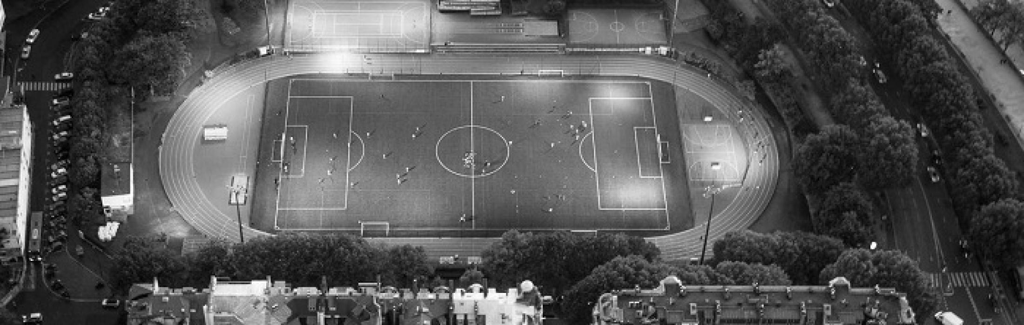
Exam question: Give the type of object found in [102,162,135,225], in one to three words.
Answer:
building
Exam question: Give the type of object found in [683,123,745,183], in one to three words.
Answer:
basketball court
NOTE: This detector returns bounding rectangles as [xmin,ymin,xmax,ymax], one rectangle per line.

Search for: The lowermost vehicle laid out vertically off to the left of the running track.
[27,206,42,262]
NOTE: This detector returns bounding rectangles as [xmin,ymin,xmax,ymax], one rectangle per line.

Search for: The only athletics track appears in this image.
[161,53,778,263]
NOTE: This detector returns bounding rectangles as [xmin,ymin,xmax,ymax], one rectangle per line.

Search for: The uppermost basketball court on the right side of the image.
[566,8,669,46]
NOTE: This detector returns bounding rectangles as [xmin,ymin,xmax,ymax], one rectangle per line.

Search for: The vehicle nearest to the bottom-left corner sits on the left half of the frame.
[20,311,43,323]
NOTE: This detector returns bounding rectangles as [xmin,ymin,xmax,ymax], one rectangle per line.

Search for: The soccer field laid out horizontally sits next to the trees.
[250,72,696,238]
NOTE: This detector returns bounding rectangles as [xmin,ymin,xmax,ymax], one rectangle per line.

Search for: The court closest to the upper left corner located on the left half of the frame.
[280,0,431,50]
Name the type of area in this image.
sports ground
